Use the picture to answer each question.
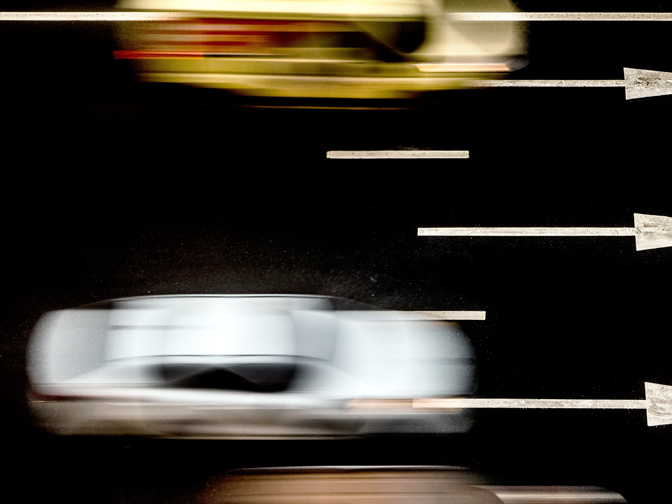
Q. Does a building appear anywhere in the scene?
No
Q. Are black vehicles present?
No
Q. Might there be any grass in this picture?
No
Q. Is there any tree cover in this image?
No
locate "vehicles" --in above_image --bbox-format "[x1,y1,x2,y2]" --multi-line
[221,461,605,504]
[32,282,469,436]
[122,0,526,111]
